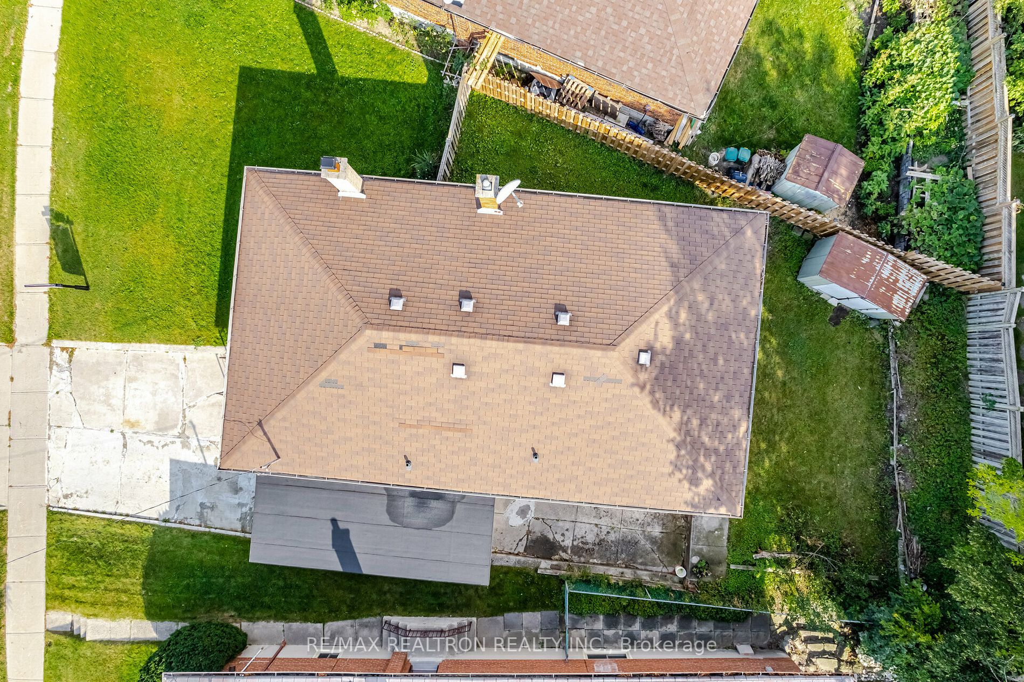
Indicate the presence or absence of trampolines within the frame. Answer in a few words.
No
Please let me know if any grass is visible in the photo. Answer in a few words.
Yes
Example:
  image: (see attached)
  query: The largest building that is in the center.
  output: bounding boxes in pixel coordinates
[219,157,769,518]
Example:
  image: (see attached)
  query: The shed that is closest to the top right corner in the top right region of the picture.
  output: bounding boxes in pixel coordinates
[774,134,863,215]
